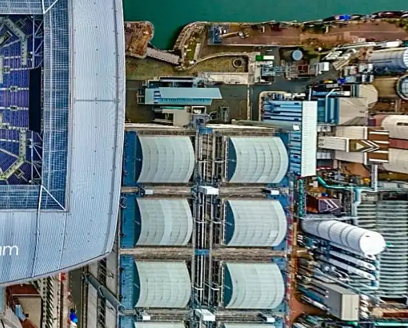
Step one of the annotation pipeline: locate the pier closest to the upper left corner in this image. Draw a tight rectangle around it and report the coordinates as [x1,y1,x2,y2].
[122,21,153,58]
